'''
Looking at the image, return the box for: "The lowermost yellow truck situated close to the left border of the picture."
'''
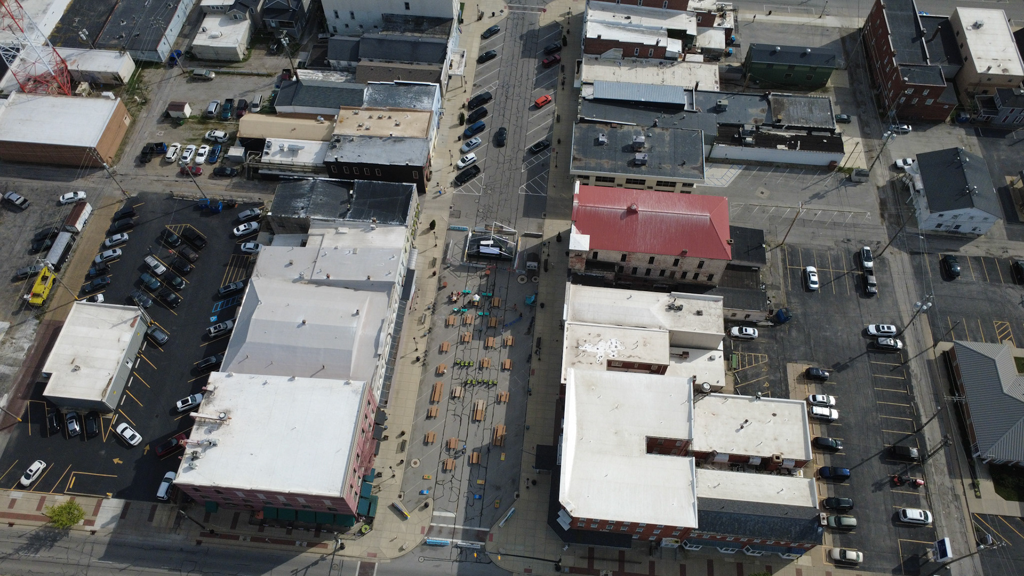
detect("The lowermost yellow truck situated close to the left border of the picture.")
[25,268,56,307]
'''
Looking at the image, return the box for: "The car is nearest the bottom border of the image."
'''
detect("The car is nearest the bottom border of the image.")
[830,548,862,565]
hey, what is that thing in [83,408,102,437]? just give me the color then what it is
black car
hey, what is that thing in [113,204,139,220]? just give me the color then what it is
black car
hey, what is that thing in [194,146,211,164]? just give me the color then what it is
white car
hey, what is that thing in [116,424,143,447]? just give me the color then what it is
white car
